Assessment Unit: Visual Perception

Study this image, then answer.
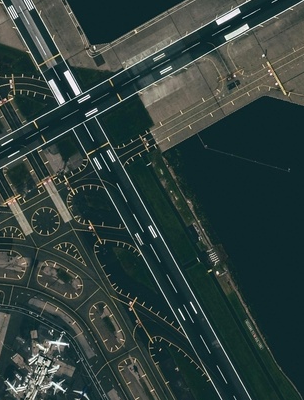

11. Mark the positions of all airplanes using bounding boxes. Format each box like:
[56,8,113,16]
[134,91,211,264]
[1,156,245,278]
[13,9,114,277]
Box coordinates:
[53,380,68,396]
[48,334,70,353]
[72,388,88,400]
[3,379,18,394]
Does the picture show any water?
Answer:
Yes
